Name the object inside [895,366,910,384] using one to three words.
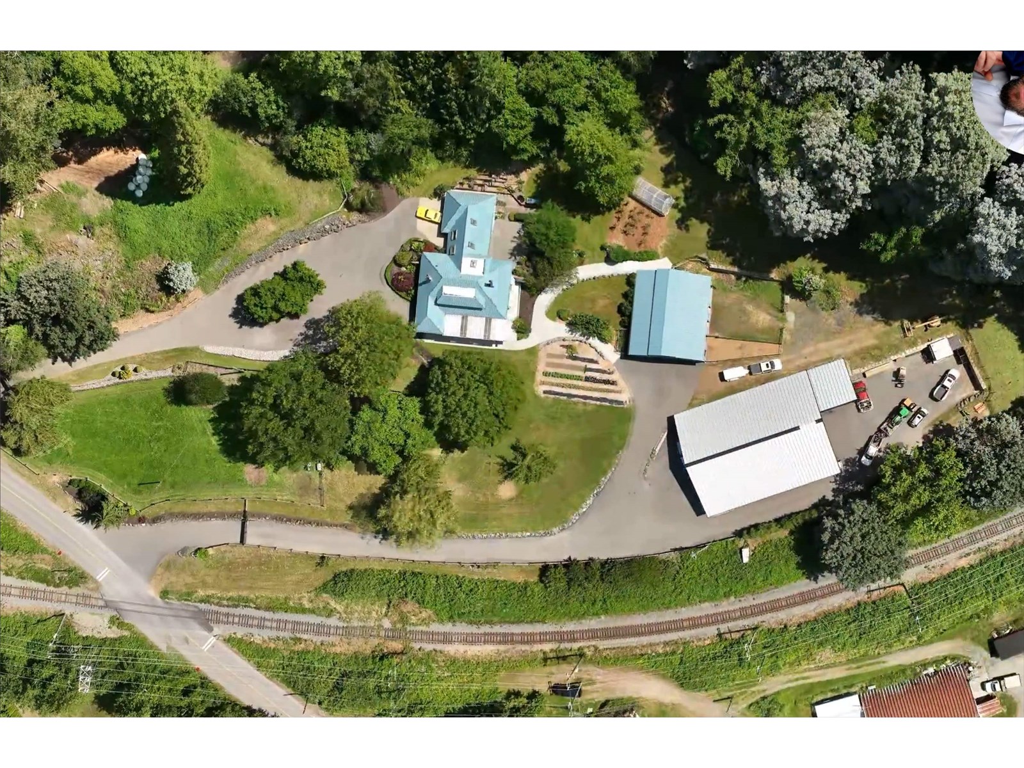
work vehicle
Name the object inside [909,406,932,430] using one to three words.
car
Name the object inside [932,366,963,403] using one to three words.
truck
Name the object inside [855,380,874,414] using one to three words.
vehicle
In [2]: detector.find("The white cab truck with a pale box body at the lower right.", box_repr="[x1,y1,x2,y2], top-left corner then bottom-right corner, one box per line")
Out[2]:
[981,679,1006,696]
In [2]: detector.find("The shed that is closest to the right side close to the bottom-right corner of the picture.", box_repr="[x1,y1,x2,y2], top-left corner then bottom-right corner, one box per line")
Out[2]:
[988,623,1024,659]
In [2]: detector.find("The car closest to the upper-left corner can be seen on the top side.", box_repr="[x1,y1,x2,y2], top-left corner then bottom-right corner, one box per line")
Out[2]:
[415,207,442,224]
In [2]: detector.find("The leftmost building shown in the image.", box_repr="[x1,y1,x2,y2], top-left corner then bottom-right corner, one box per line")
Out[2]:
[416,190,514,345]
